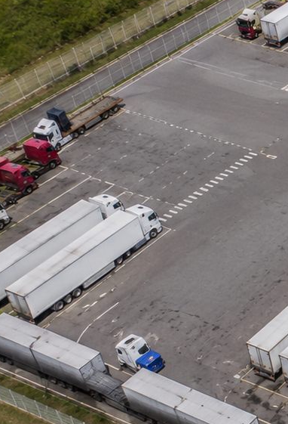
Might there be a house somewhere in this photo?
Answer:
No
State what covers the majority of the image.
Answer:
paved ground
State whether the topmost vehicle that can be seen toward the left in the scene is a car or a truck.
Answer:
truck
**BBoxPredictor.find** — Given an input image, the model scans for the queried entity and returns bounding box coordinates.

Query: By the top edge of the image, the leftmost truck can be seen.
[242,8,268,39]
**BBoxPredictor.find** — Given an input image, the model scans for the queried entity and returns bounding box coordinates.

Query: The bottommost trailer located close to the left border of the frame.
[0,312,110,398]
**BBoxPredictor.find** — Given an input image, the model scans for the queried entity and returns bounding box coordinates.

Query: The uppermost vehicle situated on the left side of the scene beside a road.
[27,93,126,149]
